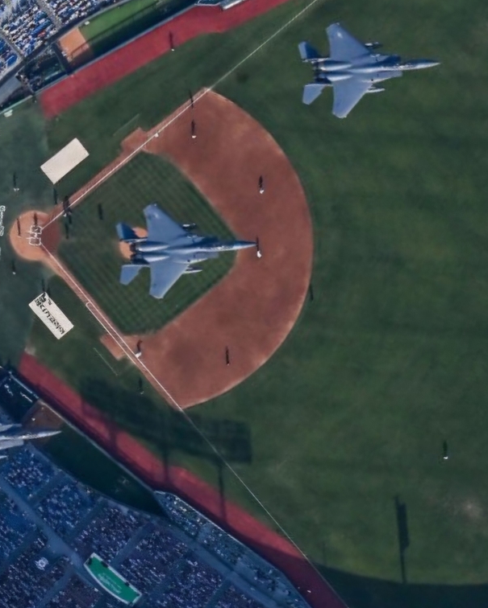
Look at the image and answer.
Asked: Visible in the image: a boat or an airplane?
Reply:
airplane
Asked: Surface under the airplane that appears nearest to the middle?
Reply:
grass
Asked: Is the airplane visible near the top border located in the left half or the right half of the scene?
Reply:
right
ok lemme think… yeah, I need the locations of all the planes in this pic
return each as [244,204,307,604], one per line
[299,24,440,119]
[115,206,254,300]
[0,422,61,464]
